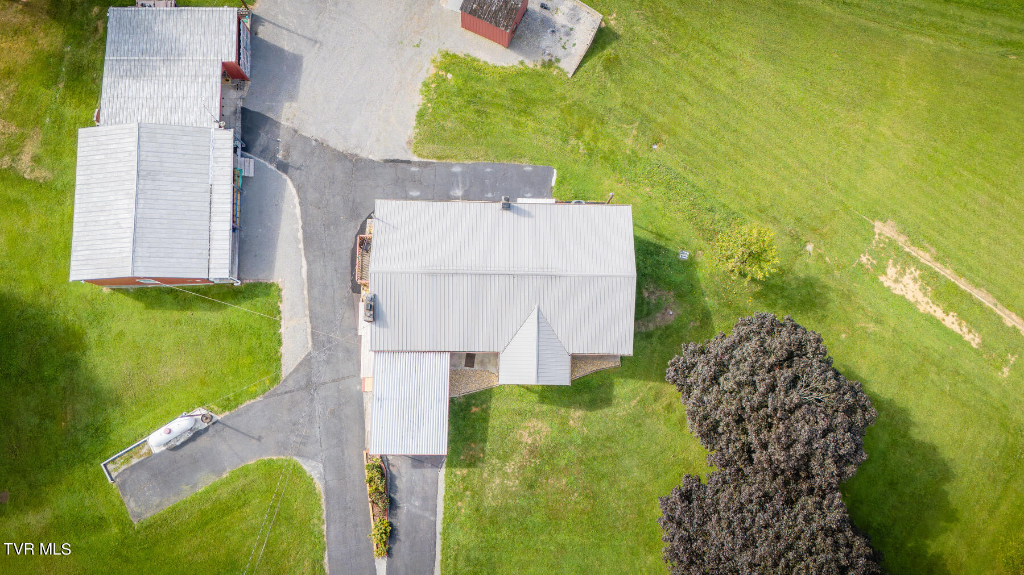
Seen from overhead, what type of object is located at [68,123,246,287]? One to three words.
barn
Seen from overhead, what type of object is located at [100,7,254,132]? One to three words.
building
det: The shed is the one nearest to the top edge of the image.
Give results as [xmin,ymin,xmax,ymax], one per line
[458,0,531,47]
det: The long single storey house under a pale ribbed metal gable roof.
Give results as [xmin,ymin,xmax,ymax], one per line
[368,200,637,385]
